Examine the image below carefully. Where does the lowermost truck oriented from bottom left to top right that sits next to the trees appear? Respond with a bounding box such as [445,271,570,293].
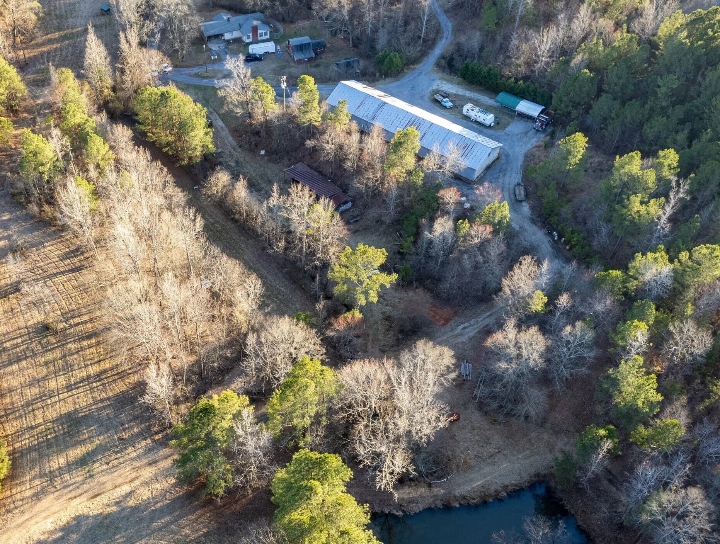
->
[531,108,561,132]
